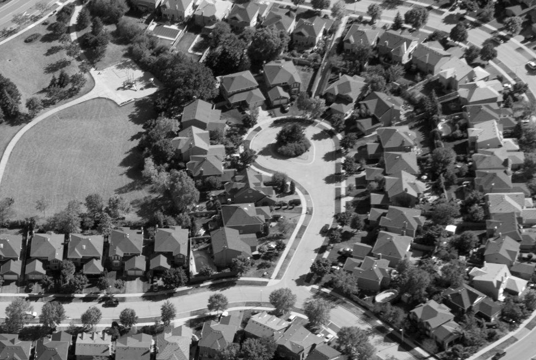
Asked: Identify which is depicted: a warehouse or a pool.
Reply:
pool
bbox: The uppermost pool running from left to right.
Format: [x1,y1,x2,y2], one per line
[153,24,181,39]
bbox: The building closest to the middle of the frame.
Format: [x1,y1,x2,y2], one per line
[226,166,275,207]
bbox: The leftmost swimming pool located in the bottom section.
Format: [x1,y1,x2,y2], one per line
[192,247,216,274]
